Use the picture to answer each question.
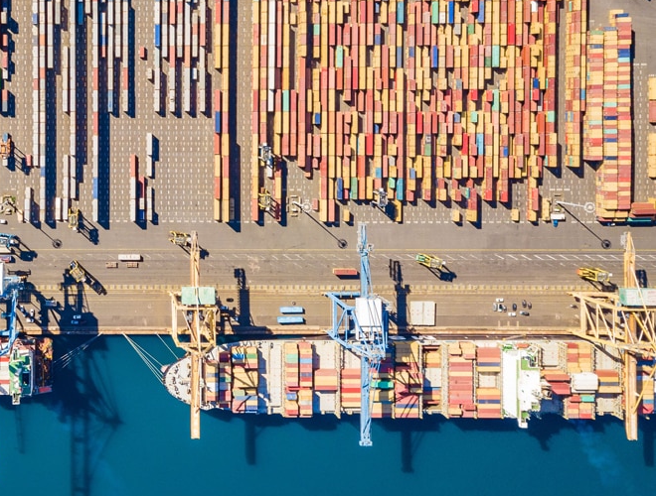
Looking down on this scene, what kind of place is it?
port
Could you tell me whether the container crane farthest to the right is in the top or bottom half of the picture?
bottom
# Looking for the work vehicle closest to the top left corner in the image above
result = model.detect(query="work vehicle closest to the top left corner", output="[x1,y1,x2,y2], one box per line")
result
[0,135,13,158]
